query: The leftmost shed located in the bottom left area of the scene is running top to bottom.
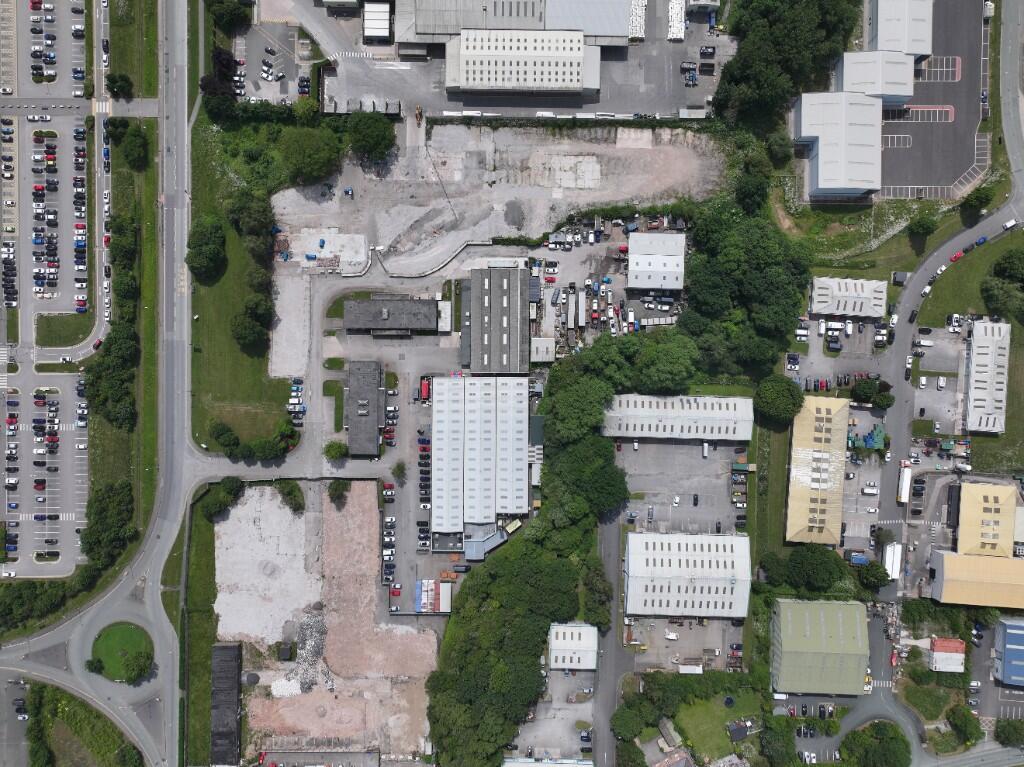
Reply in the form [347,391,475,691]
[211,639,245,767]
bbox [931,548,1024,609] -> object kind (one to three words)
building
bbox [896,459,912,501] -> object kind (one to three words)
vehicle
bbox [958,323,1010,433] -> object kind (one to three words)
building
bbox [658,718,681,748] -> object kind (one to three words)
shed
